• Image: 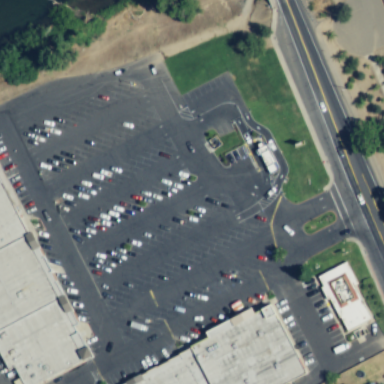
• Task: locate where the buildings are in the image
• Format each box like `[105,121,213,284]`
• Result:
[122,302,306,384]
[0,184,92,384]
[258,142,280,174]
[318,262,373,342]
